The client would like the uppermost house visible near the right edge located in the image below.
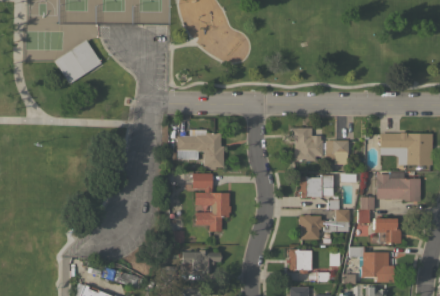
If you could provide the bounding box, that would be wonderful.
[381,134,434,166]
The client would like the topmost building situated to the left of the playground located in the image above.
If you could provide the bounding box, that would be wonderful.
[56,40,101,82]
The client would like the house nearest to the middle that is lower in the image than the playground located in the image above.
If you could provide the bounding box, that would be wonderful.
[178,132,224,170]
